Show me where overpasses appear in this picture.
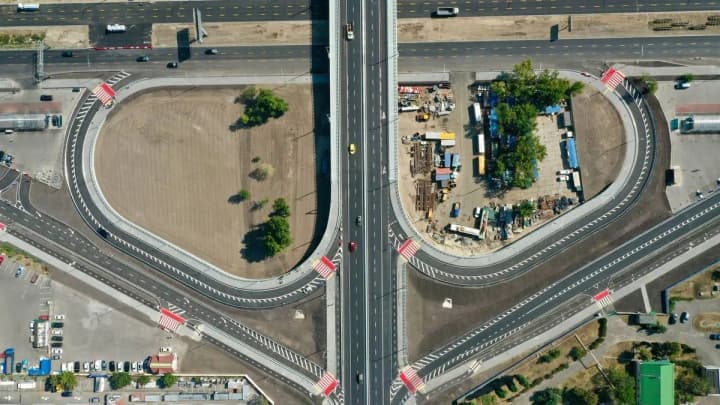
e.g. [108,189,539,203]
[326,0,417,405]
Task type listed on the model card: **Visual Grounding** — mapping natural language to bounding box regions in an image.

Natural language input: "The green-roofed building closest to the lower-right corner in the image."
[634,360,674,405]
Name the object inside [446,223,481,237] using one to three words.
vehicle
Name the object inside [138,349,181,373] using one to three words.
building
